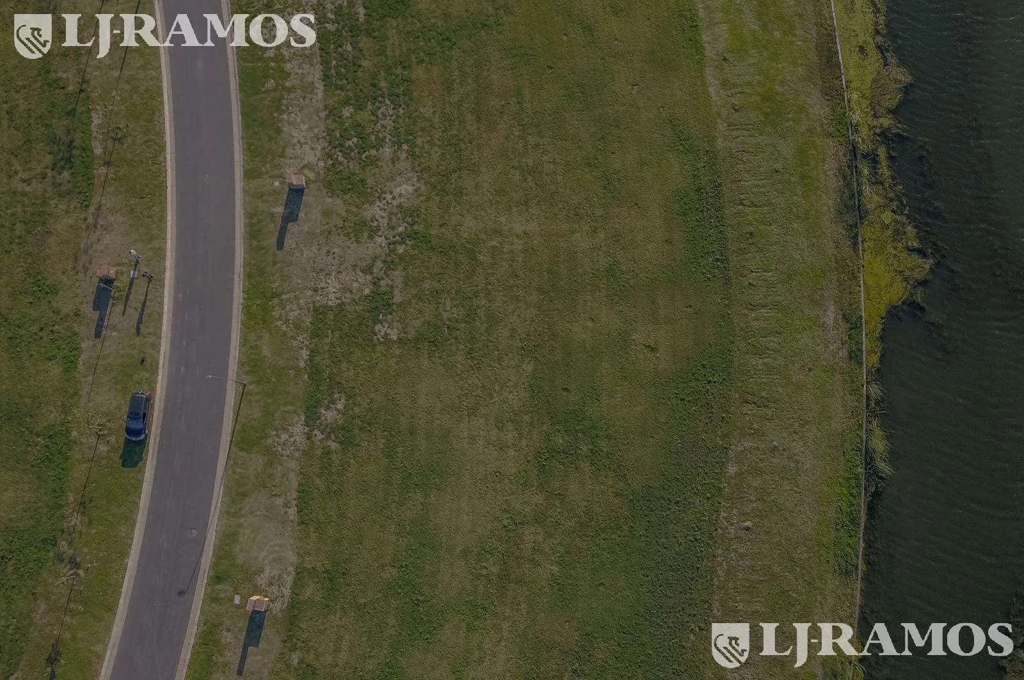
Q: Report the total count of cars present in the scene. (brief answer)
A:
1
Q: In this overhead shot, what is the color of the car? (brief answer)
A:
black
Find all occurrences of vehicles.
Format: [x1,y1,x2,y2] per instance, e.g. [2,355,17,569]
[121,391,155,442]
